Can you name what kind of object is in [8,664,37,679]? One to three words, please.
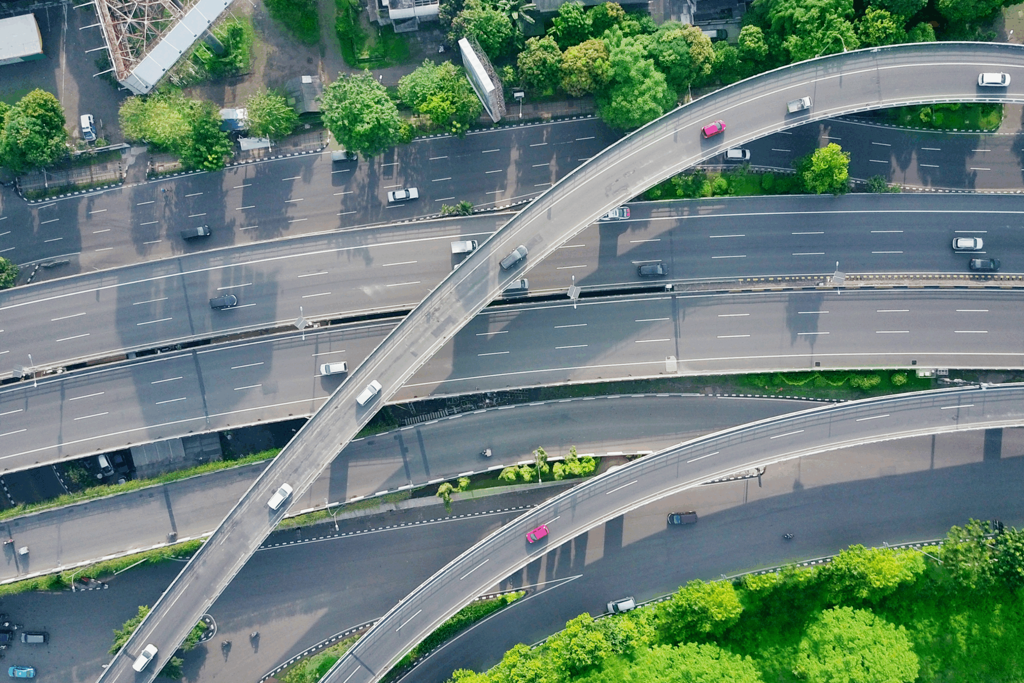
car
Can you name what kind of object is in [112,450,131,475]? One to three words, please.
car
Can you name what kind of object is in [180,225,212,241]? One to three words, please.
vehicle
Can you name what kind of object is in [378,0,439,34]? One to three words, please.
house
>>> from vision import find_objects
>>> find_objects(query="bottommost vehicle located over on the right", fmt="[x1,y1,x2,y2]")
[607,597,637,613]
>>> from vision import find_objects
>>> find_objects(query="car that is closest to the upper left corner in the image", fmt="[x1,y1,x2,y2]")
[80,114,96,141]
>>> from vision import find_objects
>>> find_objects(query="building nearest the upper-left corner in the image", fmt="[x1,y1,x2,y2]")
[0,13,53,67]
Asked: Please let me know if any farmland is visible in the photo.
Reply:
No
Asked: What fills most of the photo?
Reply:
paved ground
